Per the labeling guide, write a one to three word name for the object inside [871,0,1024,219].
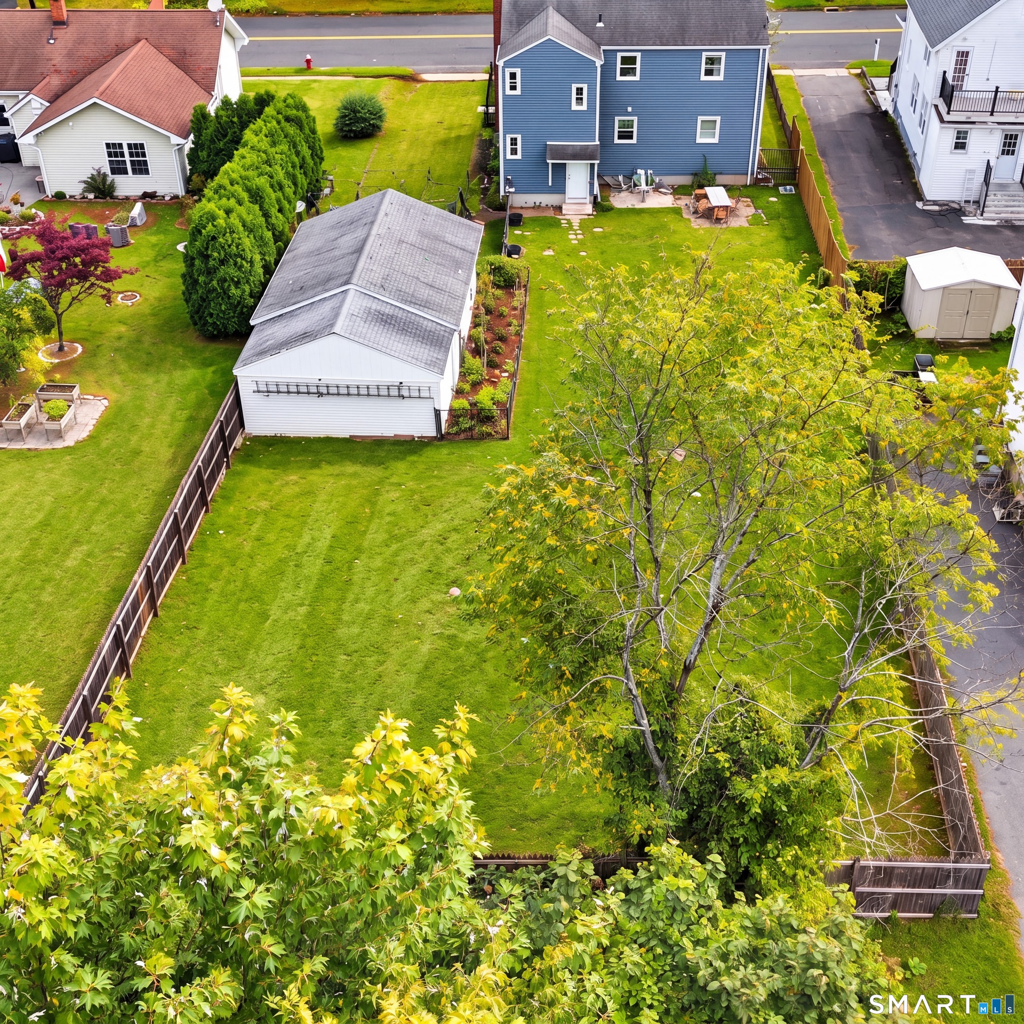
house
